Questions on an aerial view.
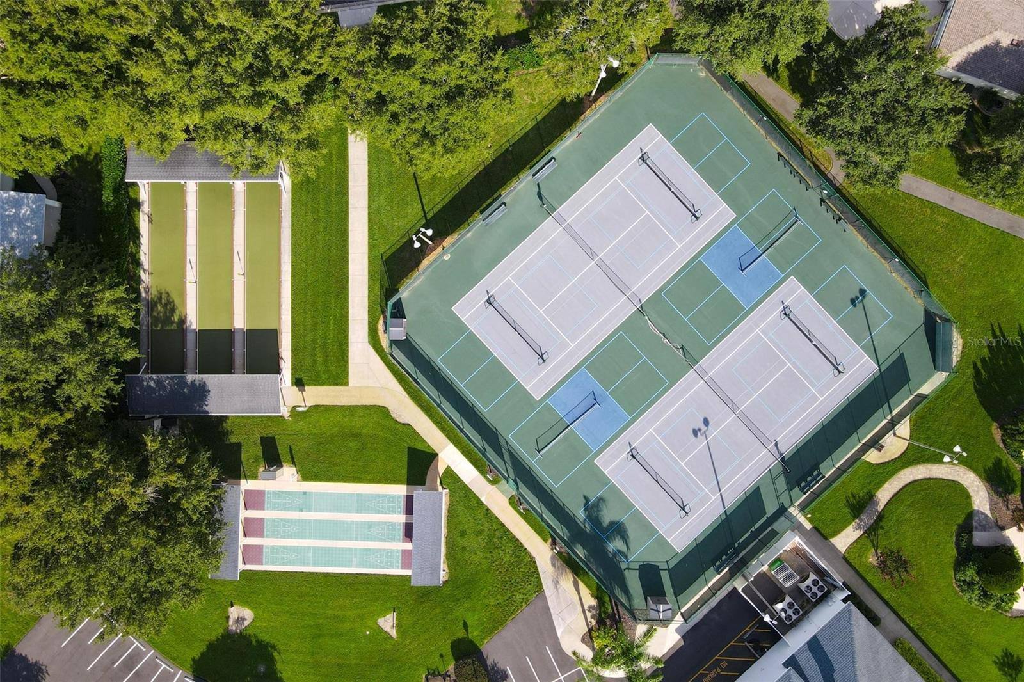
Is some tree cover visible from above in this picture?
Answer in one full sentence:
Yes, tree cover can be seen from above here.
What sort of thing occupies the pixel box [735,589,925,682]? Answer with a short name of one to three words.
building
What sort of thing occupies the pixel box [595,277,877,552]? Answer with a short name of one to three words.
tennis court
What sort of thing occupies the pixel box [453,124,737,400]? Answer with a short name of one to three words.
tennis court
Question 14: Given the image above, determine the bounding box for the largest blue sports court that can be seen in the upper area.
[662,189,822,345]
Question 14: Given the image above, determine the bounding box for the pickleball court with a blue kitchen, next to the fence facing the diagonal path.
[509,332,668,487]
